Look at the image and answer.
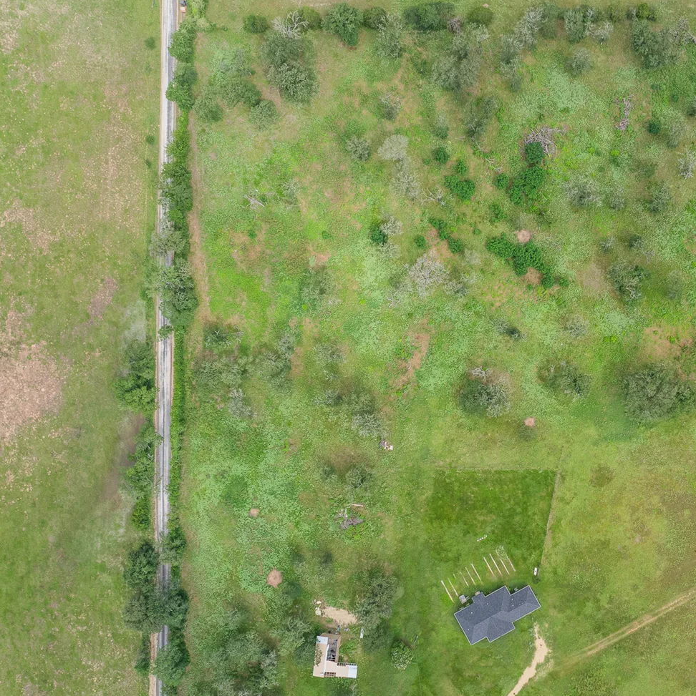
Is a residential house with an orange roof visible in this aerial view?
No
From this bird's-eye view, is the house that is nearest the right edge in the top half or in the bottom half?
bottom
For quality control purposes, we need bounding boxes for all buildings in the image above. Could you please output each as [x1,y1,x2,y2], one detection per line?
[453,584,542,646]
[313,633,358,678]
